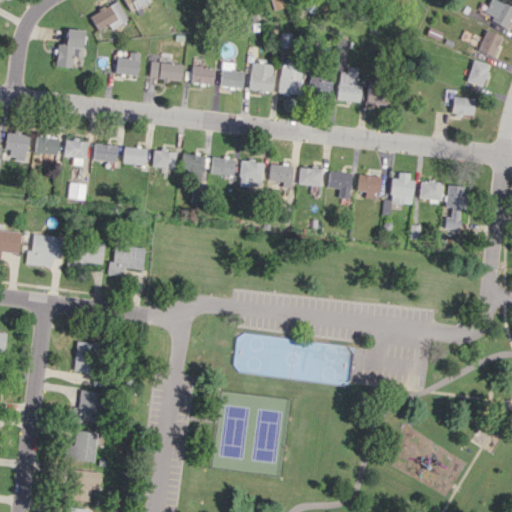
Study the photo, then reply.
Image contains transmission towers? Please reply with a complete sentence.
No, I can't see a single transmission tower in this photo.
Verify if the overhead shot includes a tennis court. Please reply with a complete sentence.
Yes, the photo shows a tennis court.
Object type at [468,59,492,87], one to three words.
house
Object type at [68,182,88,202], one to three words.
building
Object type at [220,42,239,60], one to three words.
swimming pool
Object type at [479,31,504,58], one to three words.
house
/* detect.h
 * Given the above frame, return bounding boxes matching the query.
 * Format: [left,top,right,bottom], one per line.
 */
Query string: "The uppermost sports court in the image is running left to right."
[233,332,353,384]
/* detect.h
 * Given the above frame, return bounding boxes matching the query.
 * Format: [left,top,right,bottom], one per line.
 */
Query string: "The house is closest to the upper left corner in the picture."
[53,28,90,69]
